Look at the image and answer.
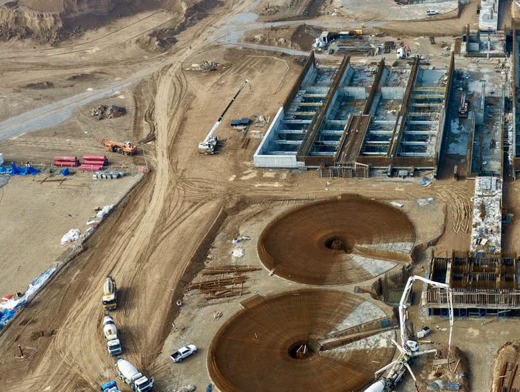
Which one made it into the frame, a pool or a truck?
truck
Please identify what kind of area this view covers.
industrial area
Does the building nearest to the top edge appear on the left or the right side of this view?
right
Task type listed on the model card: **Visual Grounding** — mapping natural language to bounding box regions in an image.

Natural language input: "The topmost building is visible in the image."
[416,251,520,317]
